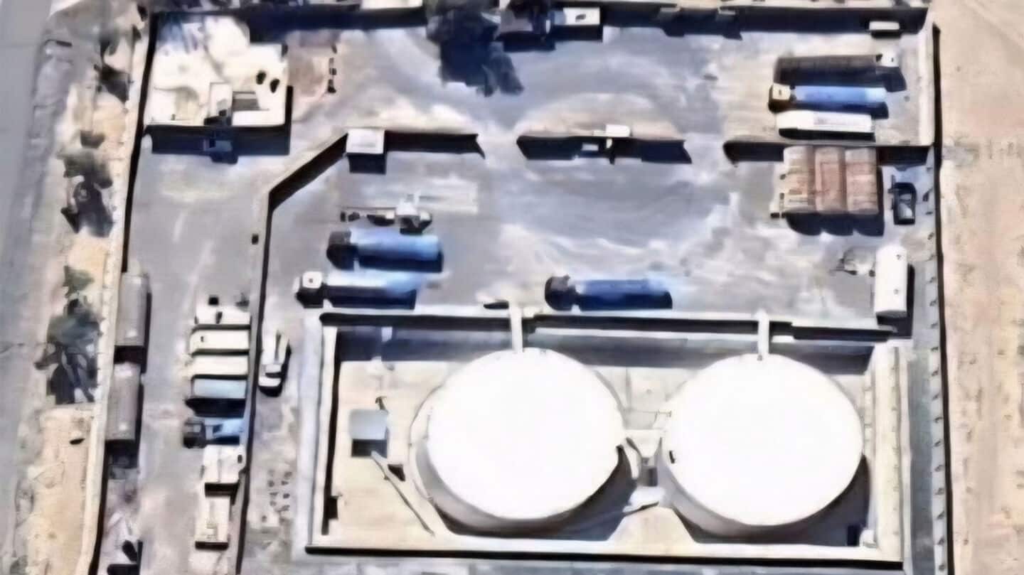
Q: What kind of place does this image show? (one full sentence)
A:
It's an industrial area.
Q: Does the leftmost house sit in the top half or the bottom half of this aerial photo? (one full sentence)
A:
The leftmost house is in the top half of the image.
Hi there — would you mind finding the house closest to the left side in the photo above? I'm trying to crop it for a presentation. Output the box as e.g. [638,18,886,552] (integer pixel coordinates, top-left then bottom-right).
[147,18,288,161]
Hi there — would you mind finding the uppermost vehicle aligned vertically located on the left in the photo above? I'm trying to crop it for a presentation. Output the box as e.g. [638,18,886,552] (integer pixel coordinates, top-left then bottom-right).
[259,331,284,394]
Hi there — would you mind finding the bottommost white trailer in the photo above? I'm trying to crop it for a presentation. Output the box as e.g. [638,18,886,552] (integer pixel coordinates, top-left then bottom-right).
[195,488,230,546]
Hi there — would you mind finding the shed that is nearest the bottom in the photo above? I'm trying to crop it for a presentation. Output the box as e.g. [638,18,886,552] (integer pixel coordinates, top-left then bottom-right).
[350,410,387,449]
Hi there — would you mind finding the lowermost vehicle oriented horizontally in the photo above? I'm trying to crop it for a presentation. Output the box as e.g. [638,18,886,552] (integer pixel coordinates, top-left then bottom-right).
[183,415,243,441]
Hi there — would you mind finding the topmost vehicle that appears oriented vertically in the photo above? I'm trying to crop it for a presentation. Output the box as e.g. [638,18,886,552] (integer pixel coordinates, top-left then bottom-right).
[894,182,915,225]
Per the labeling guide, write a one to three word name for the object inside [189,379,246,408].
truck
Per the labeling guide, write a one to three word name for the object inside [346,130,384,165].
shed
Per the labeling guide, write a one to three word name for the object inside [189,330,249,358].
vehicle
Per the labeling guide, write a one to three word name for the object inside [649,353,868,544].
storage tank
